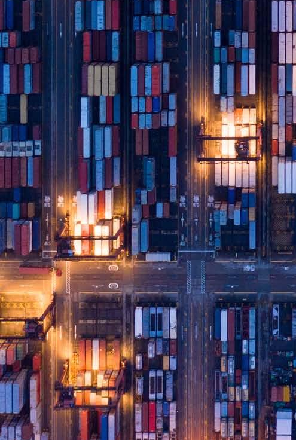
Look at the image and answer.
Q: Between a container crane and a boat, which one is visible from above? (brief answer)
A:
container crane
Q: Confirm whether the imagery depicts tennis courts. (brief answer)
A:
No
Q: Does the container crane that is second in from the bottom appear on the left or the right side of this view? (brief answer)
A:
left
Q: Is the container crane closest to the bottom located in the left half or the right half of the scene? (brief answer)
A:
left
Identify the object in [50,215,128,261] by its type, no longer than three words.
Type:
container crane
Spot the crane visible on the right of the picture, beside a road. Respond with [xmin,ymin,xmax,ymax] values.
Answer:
[196,119,265,161]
